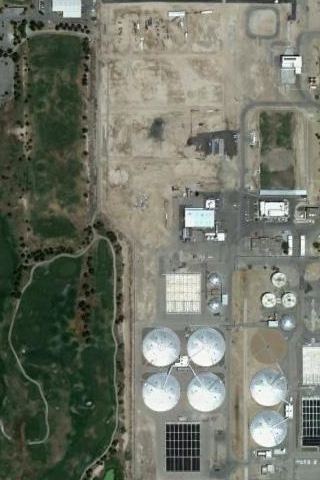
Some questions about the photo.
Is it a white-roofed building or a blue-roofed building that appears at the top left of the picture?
white-roofed building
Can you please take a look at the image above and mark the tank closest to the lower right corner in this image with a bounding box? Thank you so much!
[250,409,288,447]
